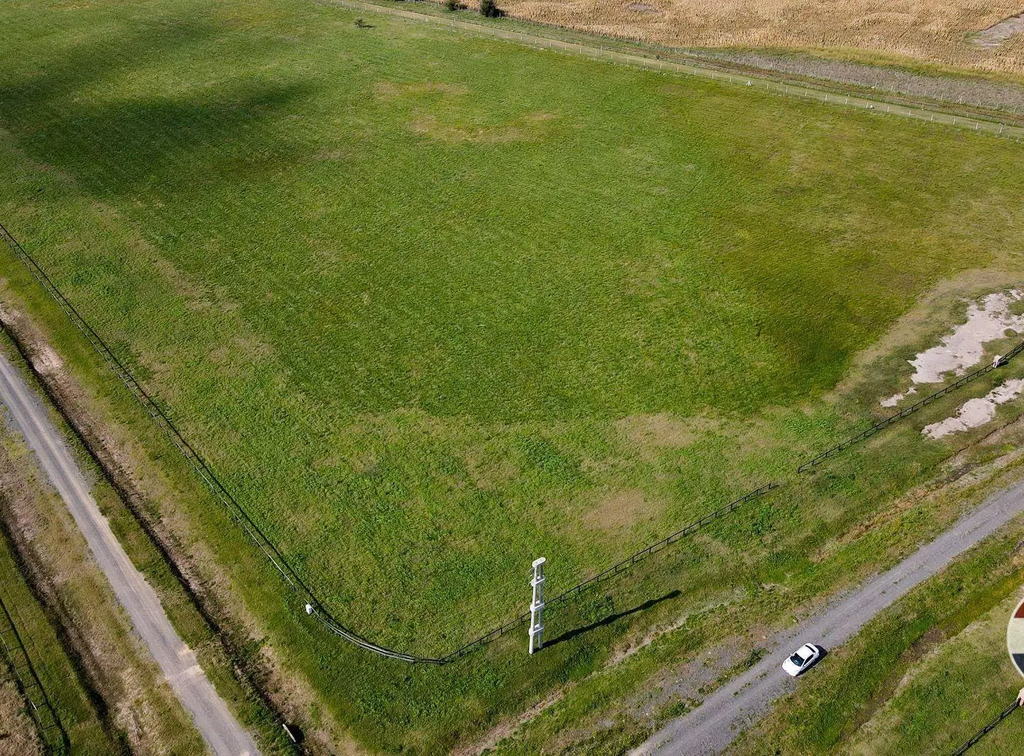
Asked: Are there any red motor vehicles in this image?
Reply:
No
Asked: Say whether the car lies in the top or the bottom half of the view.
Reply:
bottom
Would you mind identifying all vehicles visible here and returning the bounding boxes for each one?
[783,640,825,681]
